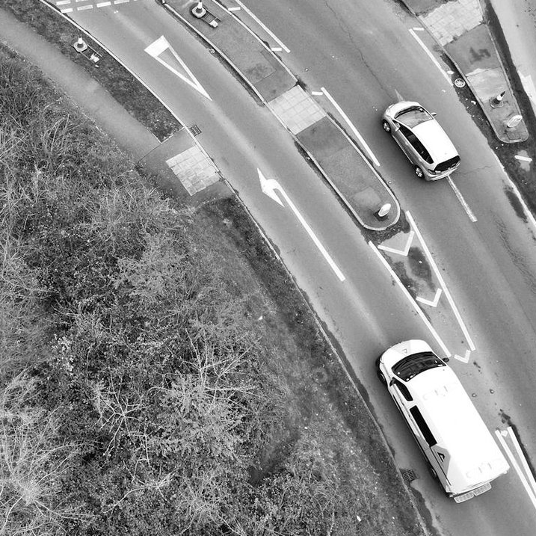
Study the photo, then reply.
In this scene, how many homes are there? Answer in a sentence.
I count no homes.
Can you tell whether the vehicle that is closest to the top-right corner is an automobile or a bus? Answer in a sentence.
I'd identify the vehicle that is closest to the top-right corner as an automobile.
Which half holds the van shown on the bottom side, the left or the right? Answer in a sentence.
The van shown on the bottom side is on the right side of the image.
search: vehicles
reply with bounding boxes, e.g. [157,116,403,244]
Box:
[383,99,468,188]
[377,346,509,511]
